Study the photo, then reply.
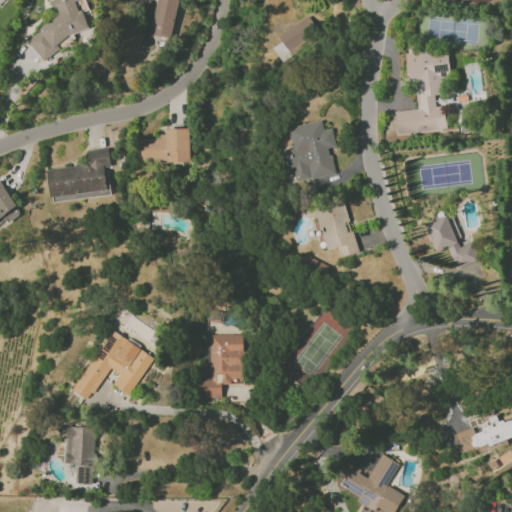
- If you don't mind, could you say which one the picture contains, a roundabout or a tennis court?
tennis court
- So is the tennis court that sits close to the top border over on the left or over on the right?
right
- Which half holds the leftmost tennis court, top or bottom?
bottom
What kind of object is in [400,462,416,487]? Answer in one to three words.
swimming pool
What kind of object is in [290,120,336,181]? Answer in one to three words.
house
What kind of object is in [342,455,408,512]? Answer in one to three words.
house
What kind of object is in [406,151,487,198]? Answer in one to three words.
tennis court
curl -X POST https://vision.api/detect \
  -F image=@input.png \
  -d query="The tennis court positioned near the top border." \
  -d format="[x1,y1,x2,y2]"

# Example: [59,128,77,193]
[420,15,490,50]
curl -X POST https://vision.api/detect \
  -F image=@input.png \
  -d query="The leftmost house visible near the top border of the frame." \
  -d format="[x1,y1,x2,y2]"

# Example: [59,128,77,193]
[28,0,90,58]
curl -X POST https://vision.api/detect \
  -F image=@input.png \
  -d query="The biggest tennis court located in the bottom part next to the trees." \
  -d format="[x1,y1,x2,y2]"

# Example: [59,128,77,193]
[292,312,350,383]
